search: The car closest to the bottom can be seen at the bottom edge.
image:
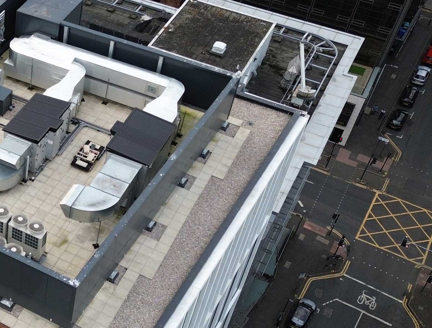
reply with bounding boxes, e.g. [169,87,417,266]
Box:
[288,296,316,328]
